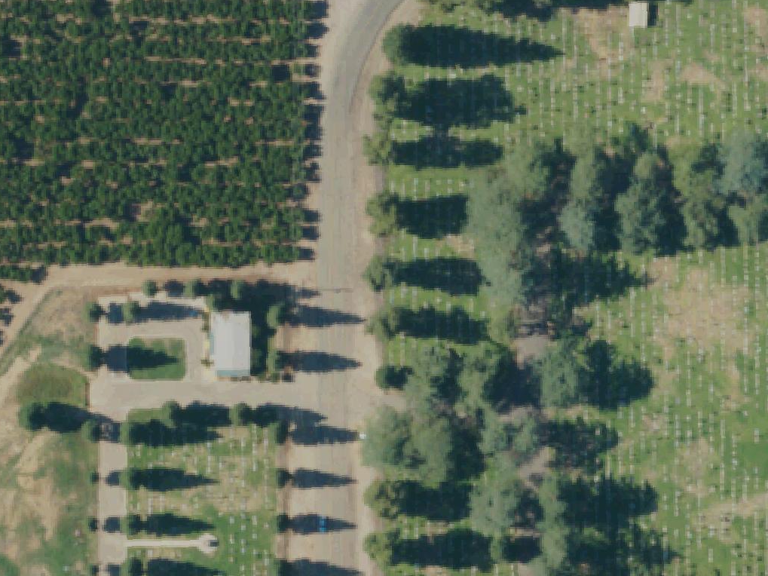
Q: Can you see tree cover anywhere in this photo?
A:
Yes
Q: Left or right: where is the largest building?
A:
left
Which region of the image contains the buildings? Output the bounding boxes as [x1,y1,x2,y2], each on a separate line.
[629,1,648,26]
[207,311,250,383]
